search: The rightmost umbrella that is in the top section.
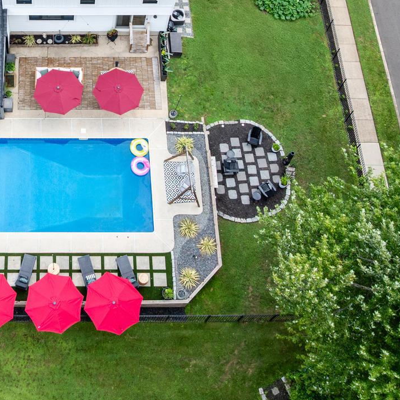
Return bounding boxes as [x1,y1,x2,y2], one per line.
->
[91,71,144,118]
